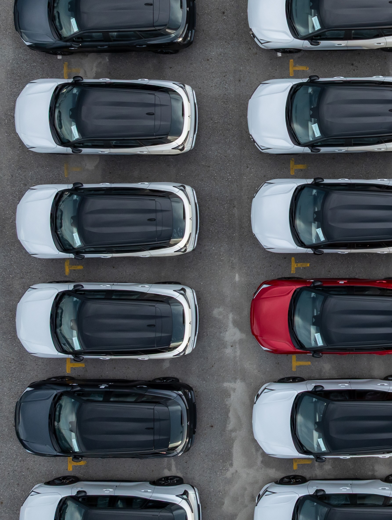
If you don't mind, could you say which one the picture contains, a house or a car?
car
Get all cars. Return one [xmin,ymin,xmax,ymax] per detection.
[252,375,392,466]
[11,0,196,54]
[249,276,392,360]
[14,280,198,364]
[250,174,392,258]
[14,177,199,261]
[11,374,197,463]
[254,475,392,520]
[246,0,392,53]
[17,476,201,520]
[12,73,198,156]
[247,73,392,156]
